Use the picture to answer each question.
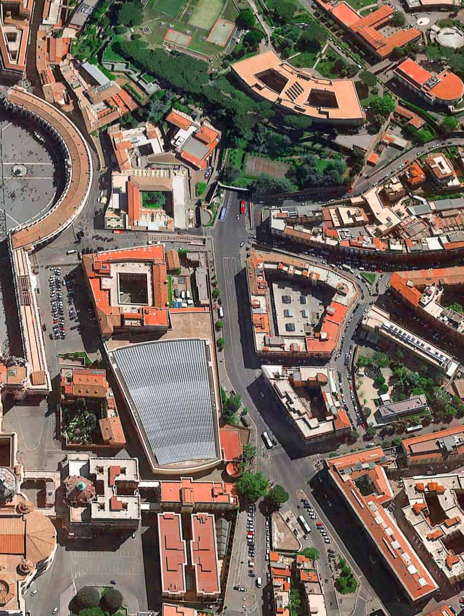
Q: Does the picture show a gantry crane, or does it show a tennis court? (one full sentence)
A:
There is a tennis court in the scene.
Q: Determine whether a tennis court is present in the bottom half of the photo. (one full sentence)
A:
No, there is no tennis court in the bottom half of the photo.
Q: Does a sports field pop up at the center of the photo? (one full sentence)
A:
No, looking at the center of the photo, there is no sports field.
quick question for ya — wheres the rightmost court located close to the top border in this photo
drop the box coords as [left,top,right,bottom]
[207,18,235,47]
